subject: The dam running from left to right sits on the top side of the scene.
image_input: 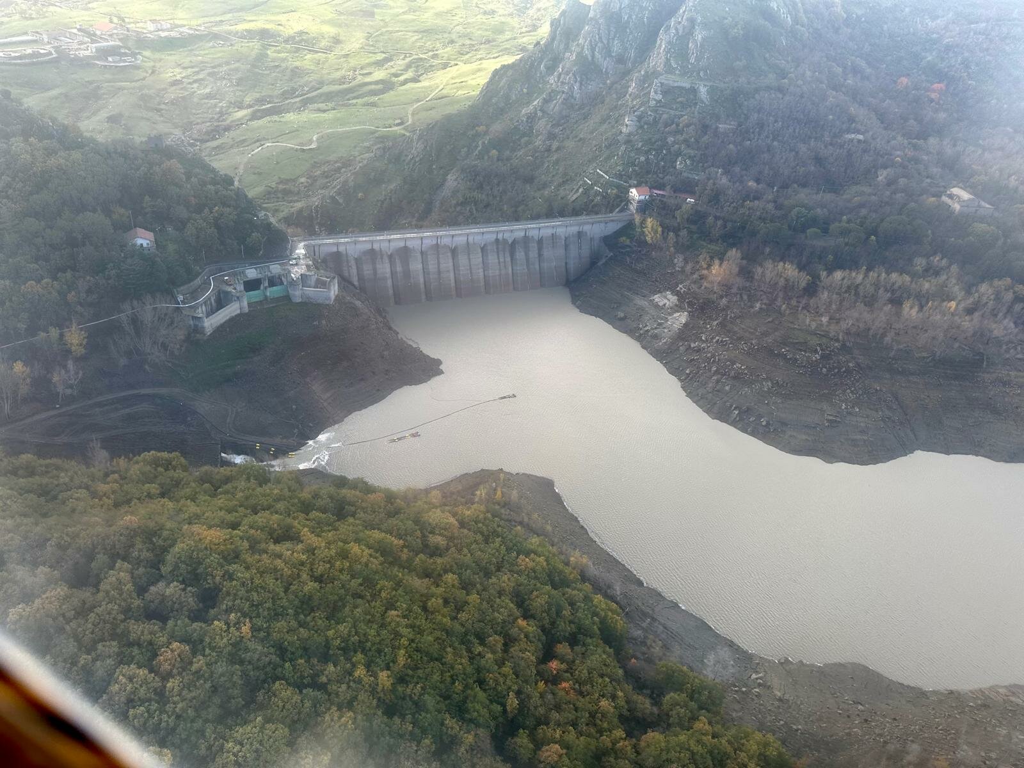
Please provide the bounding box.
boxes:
[292,210,628,305]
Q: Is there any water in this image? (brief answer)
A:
Yes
